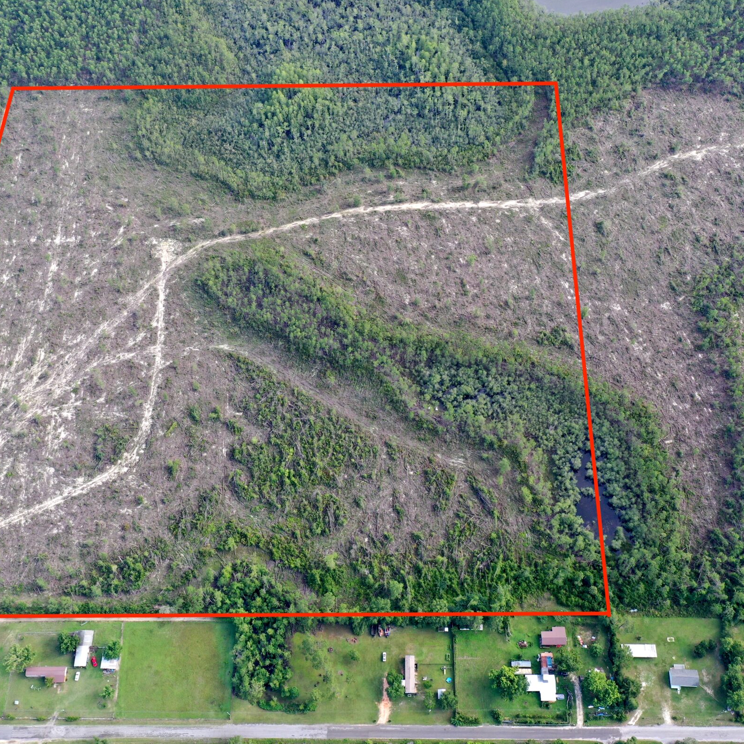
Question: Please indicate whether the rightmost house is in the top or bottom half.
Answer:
bottom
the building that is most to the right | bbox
[669,664,701,693]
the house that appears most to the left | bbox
[25,666,68,683]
